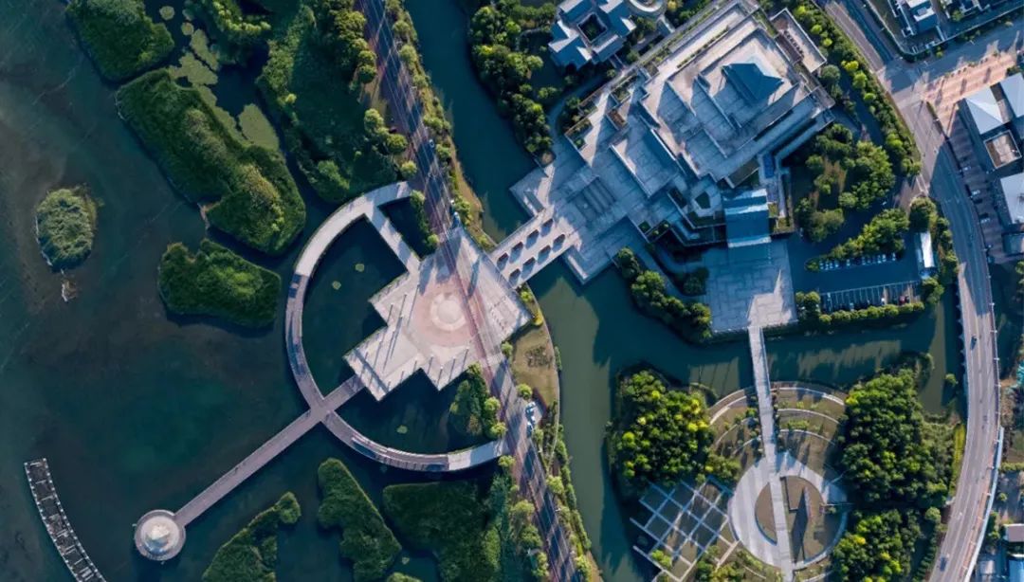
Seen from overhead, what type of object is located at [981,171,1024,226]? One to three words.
building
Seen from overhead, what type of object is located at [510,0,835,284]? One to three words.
building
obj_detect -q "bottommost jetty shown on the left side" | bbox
[24,459,105,582]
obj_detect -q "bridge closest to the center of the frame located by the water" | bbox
[490,215,572,289]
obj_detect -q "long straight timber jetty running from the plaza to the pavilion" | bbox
[172,375,366,527]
